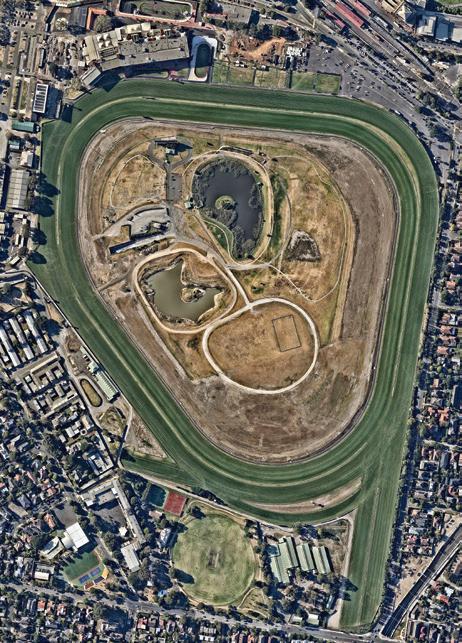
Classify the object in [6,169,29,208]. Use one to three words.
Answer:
shed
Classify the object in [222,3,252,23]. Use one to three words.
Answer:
building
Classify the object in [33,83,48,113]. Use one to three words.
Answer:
building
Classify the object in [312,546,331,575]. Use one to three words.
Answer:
shed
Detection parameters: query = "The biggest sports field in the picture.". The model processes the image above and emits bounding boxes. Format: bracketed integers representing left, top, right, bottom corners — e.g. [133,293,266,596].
[62,549,110,592]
